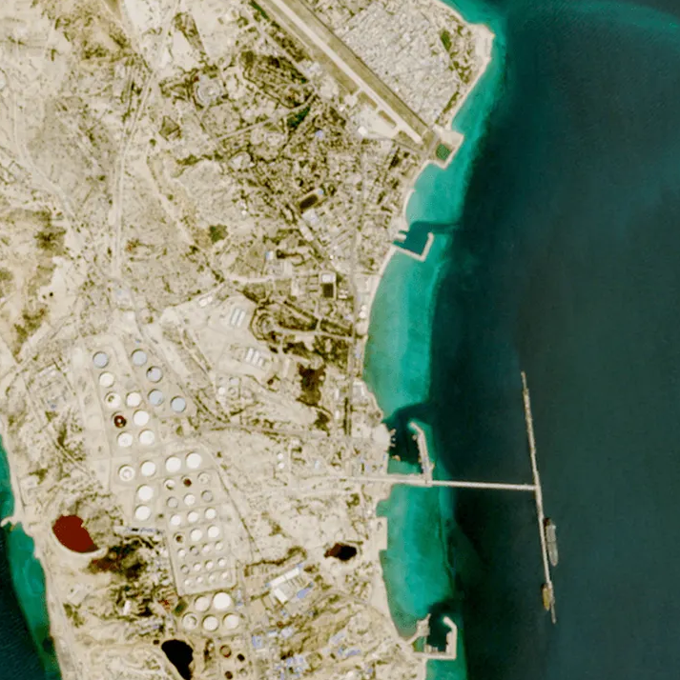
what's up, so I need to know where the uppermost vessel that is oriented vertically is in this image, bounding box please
[546,520,558,566]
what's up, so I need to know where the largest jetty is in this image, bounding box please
[385,371,555,624]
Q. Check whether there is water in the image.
Yes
